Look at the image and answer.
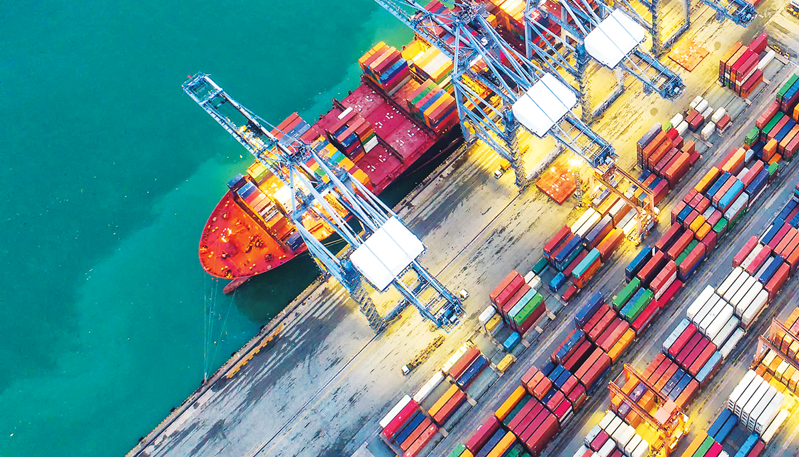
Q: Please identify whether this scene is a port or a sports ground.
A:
port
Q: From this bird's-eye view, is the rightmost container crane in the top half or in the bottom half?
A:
bottom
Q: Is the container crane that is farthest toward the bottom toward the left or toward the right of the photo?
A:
right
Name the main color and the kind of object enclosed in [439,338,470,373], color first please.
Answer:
white shipping container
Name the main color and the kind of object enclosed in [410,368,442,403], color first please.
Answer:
white shipping container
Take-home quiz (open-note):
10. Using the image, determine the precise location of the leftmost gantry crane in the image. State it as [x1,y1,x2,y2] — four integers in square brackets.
[176,67,473,343]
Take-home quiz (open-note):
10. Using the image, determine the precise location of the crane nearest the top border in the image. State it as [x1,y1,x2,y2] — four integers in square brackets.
[602,0,760,59]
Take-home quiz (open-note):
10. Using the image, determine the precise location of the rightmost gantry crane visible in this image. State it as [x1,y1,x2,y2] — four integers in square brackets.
[751,313,799,370]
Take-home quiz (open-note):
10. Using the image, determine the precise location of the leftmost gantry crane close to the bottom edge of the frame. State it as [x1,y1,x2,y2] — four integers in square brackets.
[605,360,691,457]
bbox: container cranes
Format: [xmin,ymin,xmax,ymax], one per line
[176,67,473,343]
[588,161,662,243]
[602,0,760,59]
[521,0,691,128]
[751,313,799,370]
[605,360,691,457]
[372,0,623,197]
